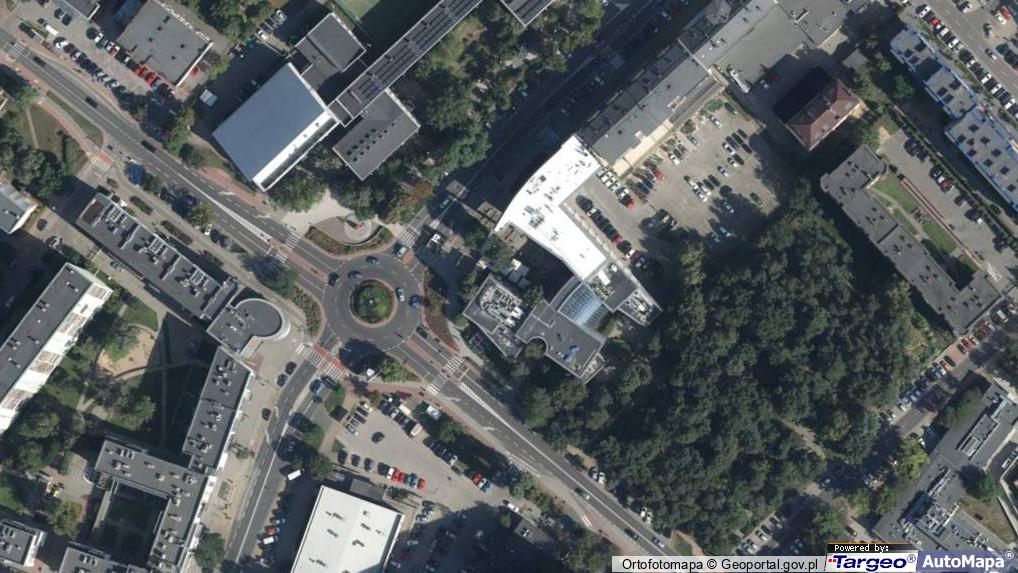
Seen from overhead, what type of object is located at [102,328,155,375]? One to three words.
playground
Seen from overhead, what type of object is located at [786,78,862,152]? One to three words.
house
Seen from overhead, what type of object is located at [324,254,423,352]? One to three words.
roundabout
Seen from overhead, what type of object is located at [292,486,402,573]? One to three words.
building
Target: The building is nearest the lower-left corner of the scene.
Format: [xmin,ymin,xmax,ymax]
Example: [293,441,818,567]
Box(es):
[0,518,43,564]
